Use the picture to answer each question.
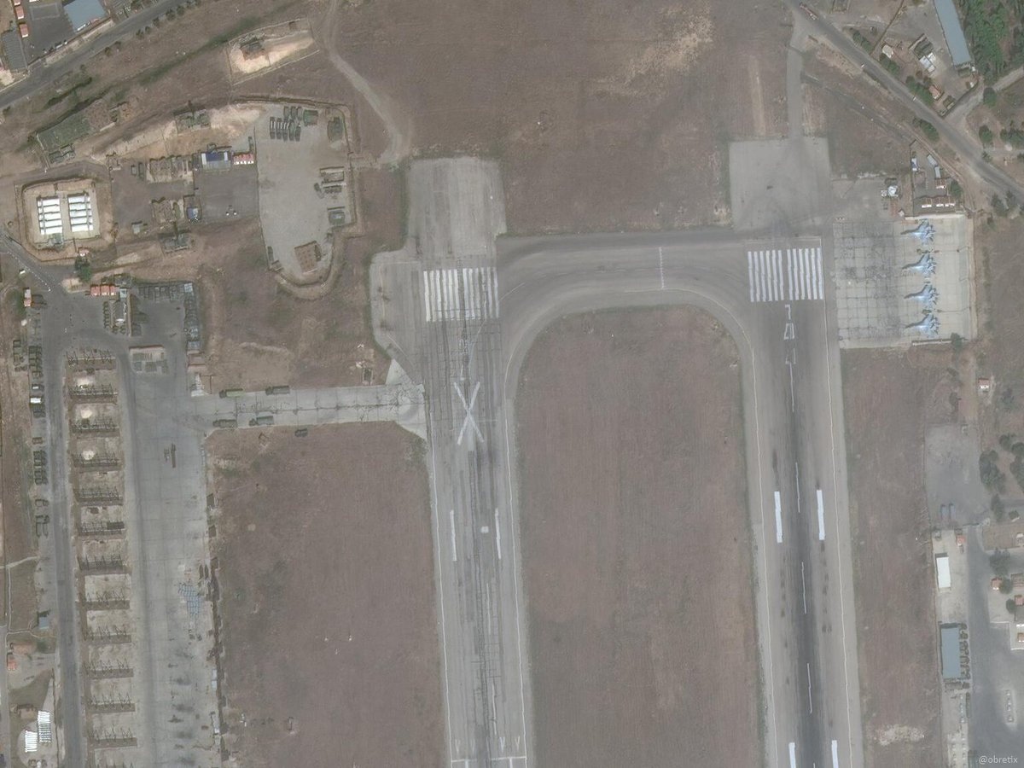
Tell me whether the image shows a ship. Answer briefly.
No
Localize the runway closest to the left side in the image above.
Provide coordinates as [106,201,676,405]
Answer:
[410,253,534,768]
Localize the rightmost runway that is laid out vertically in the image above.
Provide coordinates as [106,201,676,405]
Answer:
[732,224,864,768]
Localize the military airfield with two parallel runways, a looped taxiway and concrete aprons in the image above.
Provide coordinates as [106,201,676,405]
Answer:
[116,138,972,768]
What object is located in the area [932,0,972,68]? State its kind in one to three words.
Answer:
building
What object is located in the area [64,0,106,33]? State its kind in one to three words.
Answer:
building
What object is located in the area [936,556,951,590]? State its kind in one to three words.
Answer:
shed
